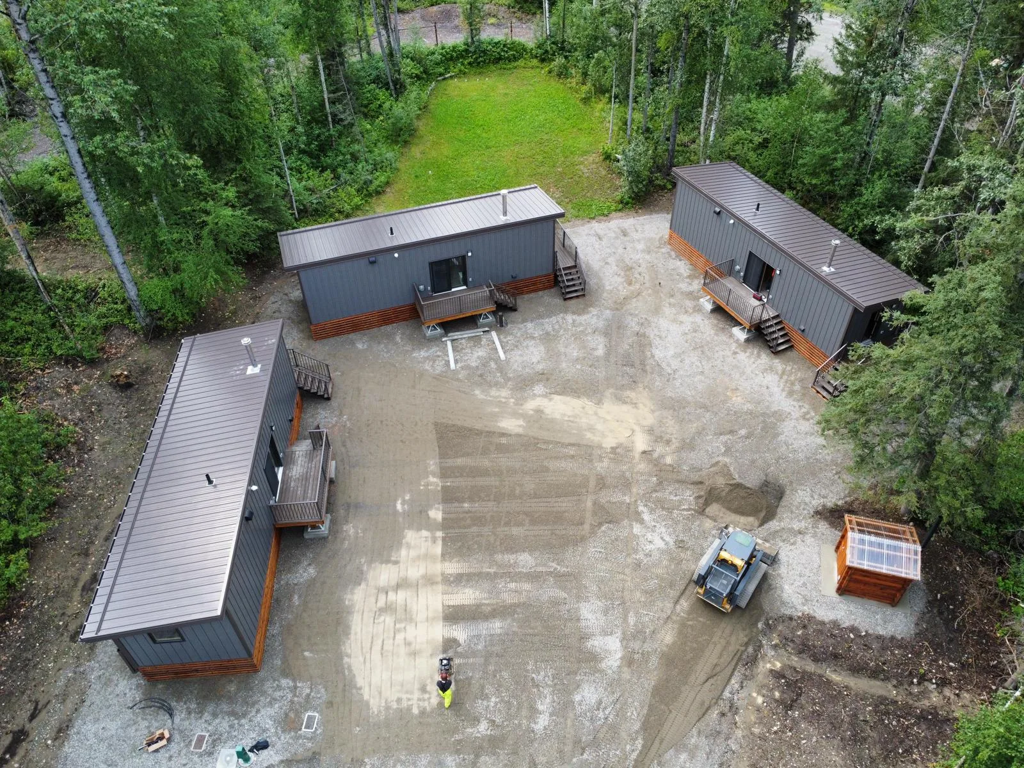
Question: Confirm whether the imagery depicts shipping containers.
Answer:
No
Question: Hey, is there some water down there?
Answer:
No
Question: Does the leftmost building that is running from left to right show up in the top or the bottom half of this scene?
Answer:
top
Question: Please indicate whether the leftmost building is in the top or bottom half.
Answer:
bottom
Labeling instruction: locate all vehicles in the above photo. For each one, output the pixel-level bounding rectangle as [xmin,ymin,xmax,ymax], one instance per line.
[694,524,779,613]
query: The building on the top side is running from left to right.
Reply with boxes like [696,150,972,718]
[277,185,566,339]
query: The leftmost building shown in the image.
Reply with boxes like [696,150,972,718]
[76,320,302,683]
